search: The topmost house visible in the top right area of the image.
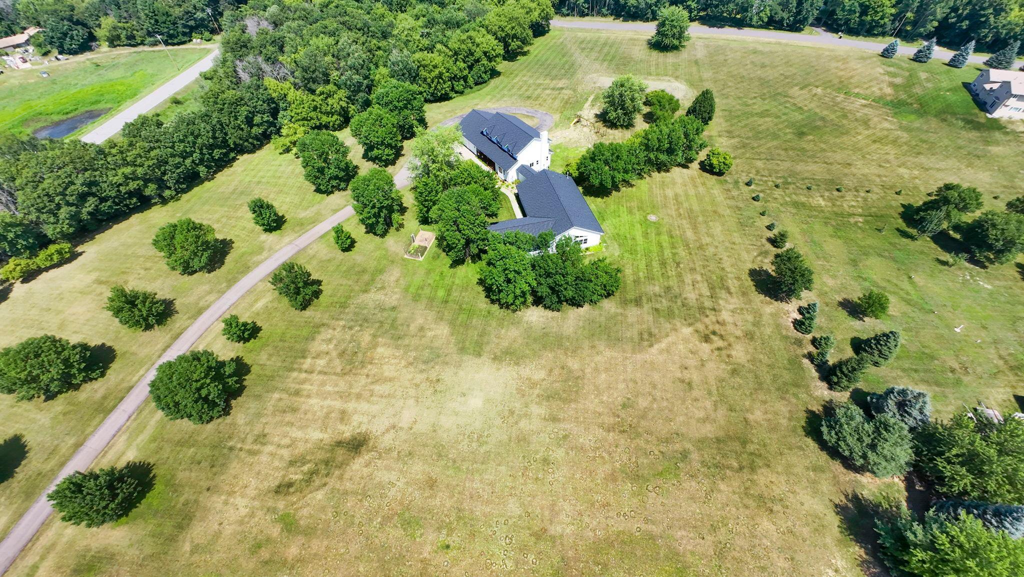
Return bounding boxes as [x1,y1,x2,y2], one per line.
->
[971,71,1024,121]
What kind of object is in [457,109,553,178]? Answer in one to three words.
house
